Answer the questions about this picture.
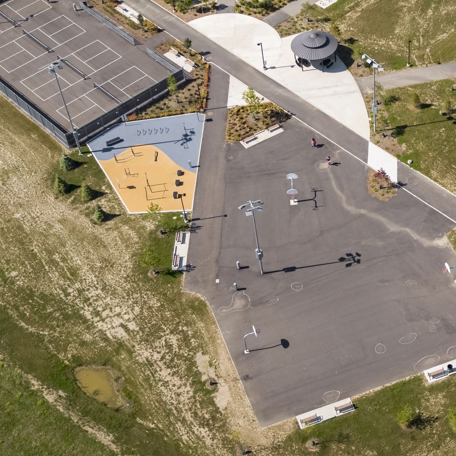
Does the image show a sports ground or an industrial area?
sports ground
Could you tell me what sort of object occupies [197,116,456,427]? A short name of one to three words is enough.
basketball court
